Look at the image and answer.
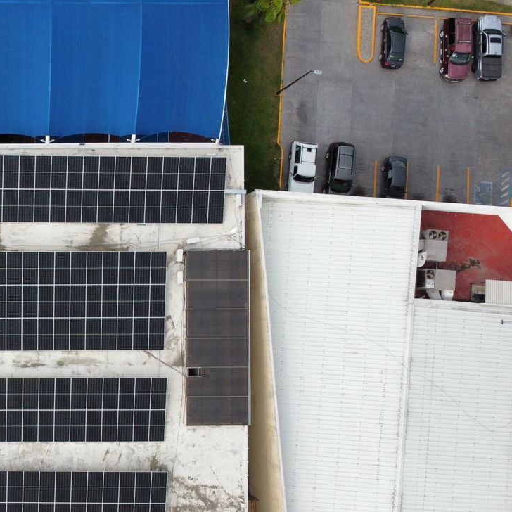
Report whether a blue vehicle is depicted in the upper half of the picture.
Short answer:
No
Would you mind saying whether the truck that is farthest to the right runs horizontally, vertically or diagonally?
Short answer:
vertically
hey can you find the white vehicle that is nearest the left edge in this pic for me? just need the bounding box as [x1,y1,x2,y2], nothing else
[287,140,318,194]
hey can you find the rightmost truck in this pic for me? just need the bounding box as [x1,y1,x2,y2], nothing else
[471,14,507,82]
